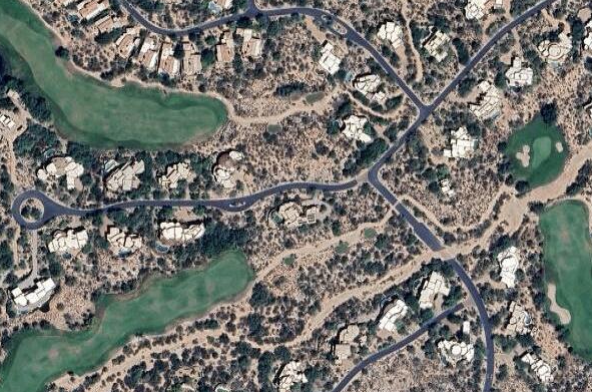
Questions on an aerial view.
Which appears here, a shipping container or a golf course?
golf course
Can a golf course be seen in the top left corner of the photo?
Yes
